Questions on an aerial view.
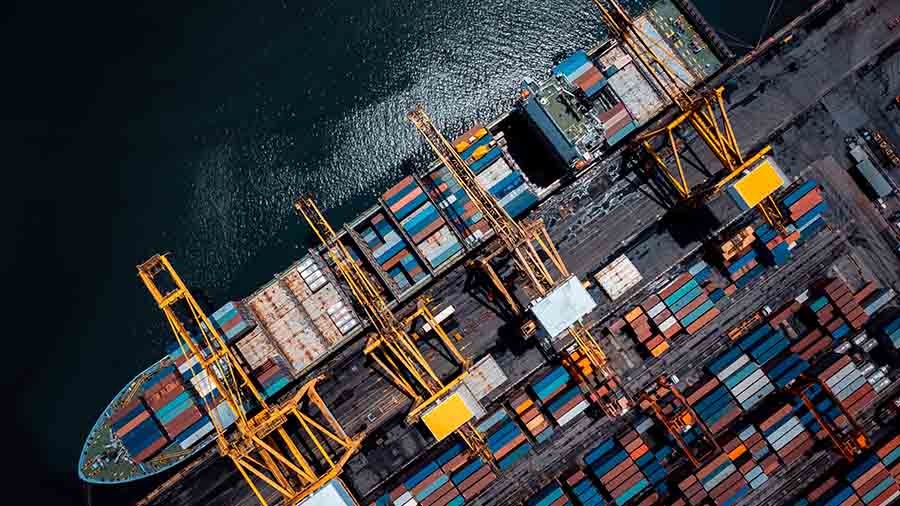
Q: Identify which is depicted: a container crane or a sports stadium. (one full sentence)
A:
It is a container crane that can be seen here.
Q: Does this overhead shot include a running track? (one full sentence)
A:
No, the photo shows no running track.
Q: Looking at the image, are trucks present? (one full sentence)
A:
Yes, a truck appears in the view.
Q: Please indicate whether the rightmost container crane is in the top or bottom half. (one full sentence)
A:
Seen from above, the rightmost container crane lies in the bottom half of the view.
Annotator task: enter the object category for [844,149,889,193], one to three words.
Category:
truck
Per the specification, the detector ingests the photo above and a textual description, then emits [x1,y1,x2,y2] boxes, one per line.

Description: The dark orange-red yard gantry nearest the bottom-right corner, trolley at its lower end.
[785,372,875,461]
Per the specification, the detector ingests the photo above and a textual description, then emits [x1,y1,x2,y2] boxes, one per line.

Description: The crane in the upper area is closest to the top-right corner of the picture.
[593,0,788,239]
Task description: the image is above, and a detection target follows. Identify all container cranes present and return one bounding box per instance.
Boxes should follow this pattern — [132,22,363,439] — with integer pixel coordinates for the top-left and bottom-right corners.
[136,247,376,506]
[593,0,788,239]
[295,194,498,473]
[407,99,615,377]
[633,374,725,471]
[555,337,634,421]
[785,372,875,461]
